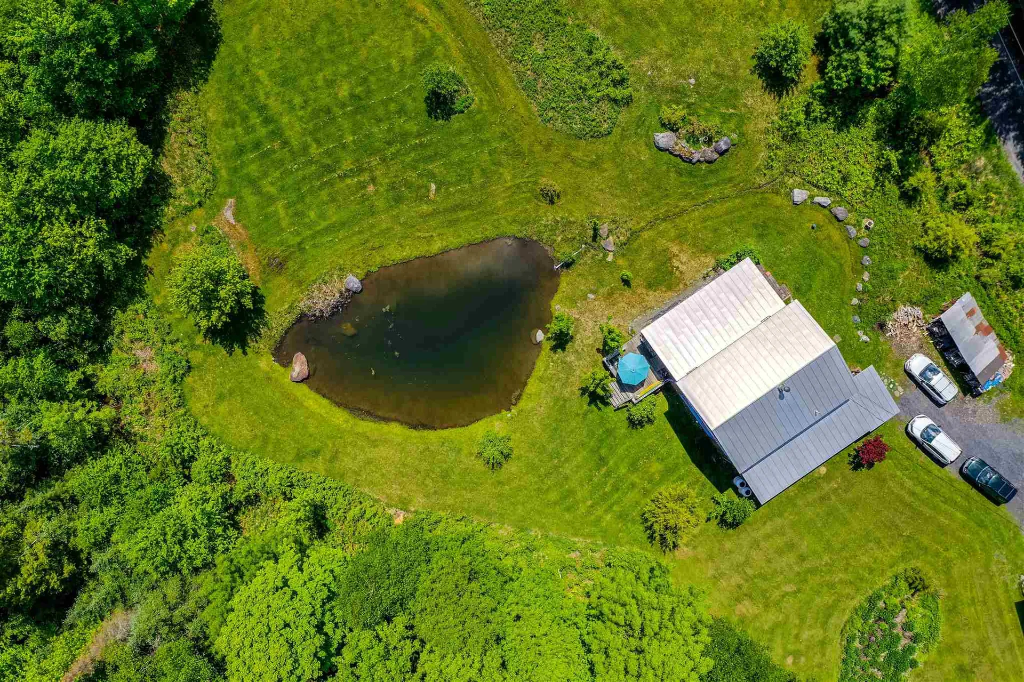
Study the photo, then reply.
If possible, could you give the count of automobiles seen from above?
3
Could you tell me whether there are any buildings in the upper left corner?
No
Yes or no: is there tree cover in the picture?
Yes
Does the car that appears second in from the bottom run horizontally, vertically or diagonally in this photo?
diagonally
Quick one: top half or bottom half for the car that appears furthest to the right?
bottom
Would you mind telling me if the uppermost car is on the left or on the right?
right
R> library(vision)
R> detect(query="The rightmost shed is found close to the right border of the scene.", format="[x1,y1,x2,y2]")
[926,290,1009,387]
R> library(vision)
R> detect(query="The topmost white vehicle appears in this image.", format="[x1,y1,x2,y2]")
[902,353,960,405]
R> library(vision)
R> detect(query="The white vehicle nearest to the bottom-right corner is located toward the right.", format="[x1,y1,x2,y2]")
[905,414,963,466]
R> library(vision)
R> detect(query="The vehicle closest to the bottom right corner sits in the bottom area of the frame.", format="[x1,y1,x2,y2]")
[958,456,1018,507]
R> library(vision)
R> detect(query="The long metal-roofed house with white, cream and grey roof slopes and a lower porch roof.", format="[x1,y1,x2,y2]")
[640,257,899,507]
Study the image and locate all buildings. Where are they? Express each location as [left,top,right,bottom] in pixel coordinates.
[640,257,899,507]
[926,290,1009,387]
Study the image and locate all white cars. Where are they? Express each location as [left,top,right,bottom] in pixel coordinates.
[905,414,963,466]
[902,353,960,405]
